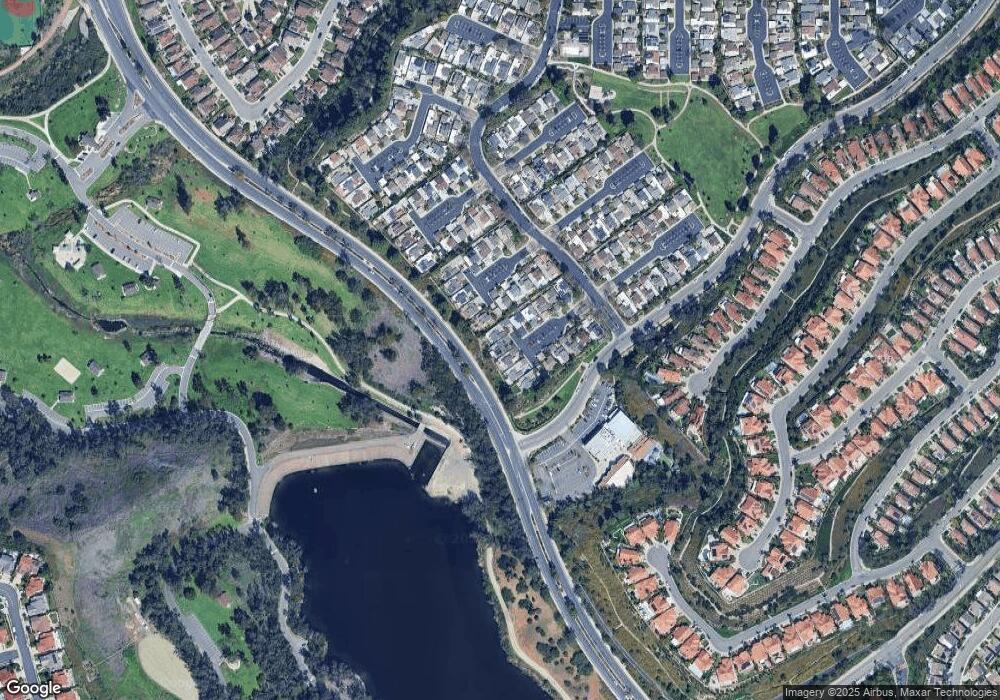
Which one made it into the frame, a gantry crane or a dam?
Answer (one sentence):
Visible in the photo is a dam.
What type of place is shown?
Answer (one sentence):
This image shows a residential area.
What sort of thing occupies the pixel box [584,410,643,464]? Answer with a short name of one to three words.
building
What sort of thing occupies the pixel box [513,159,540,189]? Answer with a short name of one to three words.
house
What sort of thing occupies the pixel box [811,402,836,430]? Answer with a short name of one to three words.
house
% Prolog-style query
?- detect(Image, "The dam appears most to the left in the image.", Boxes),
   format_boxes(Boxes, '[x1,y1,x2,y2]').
[249,435,416,520]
